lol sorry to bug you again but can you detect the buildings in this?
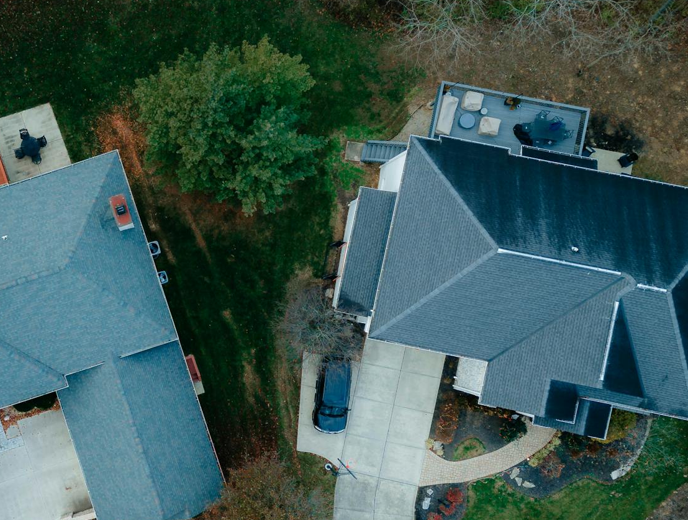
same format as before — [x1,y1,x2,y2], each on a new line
[0,148,228,520]
[324,133,688,441]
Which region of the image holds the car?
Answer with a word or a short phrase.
bottom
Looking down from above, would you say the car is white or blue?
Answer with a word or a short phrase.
blue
